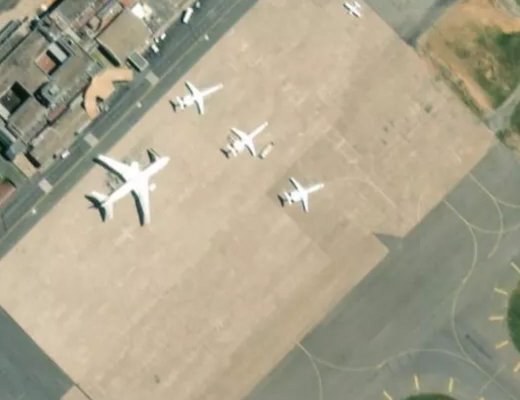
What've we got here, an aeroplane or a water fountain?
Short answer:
aeroplane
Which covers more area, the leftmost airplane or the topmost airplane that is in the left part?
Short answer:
the leftmost airplane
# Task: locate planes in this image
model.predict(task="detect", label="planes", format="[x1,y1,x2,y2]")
[283,177,323,212]
[91,153,170,225]
[346,1,361,17]
[175,81,222,116]
[225,123,267,158]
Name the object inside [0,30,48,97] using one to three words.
building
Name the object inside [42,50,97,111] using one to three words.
building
